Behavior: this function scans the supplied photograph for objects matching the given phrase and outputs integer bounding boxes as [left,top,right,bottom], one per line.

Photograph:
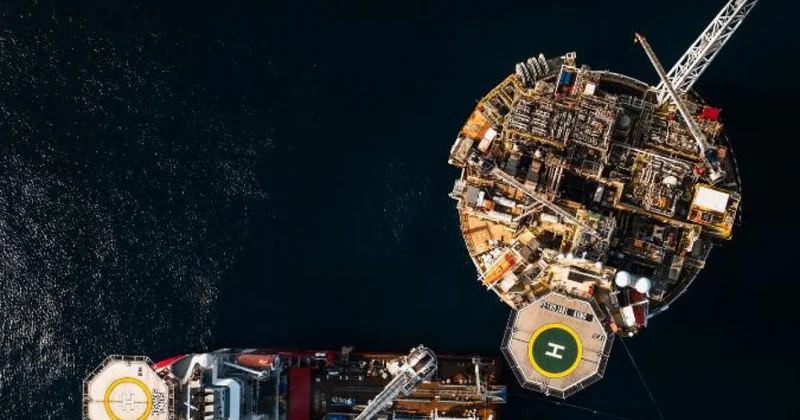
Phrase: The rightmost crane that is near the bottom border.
[348,343,434,420]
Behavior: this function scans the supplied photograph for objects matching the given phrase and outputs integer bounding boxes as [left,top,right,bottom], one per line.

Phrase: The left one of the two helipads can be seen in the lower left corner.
[82,355,175,420]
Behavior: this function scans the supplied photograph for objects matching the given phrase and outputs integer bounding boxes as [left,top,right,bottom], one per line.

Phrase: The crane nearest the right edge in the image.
[628,30,727,184]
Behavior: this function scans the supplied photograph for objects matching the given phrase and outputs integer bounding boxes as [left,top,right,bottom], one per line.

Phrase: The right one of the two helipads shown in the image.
[502,287,614,403]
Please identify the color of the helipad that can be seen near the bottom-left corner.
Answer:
white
